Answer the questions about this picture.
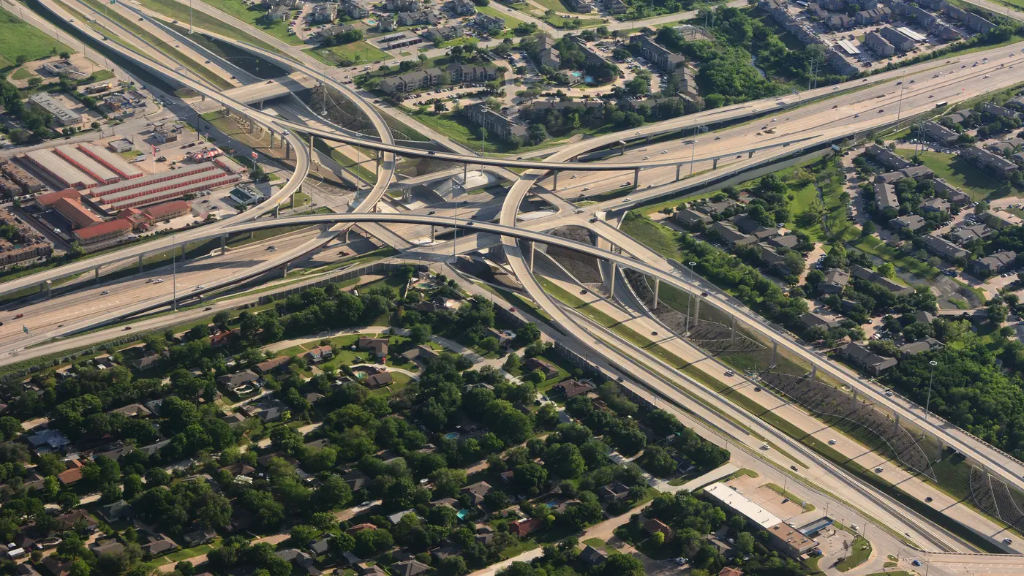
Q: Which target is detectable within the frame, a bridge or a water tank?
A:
bridge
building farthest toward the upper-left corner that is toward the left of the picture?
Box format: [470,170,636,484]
[43,59,75,80]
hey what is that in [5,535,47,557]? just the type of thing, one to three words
house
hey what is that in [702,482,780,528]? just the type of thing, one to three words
building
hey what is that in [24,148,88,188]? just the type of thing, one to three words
building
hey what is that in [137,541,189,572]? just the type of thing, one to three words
house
